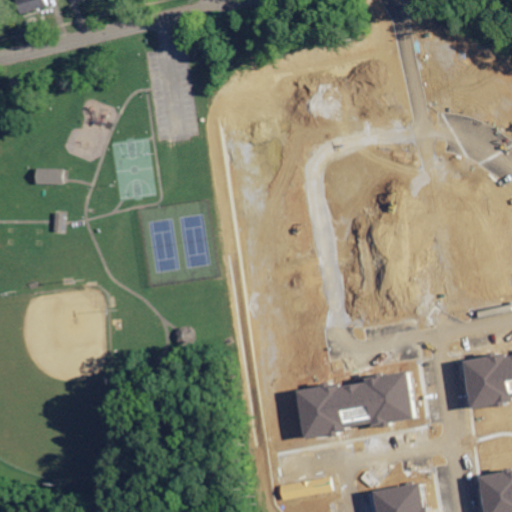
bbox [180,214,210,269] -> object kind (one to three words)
tennis court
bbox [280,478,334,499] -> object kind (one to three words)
building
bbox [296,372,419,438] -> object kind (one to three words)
house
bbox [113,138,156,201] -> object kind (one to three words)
basketball court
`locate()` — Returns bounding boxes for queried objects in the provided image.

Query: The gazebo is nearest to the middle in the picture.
[181,327,200,344]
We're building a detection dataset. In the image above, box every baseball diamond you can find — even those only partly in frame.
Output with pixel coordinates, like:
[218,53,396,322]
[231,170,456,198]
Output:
[0,288,110,482]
